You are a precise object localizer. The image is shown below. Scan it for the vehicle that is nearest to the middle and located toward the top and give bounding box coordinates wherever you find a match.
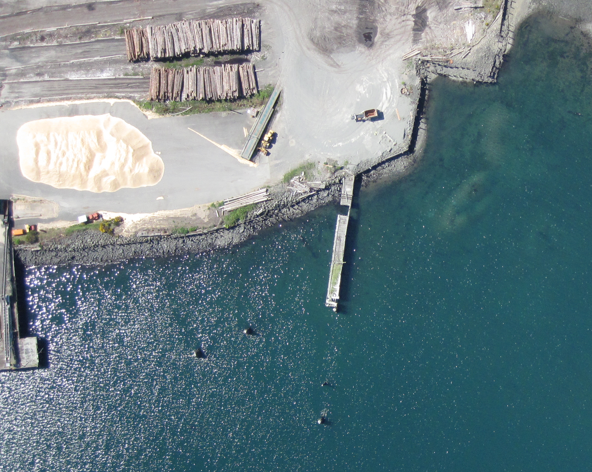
[259,127,277,158]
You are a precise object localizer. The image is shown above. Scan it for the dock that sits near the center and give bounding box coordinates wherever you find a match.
[325,175,356,307]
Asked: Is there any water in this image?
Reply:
Yes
